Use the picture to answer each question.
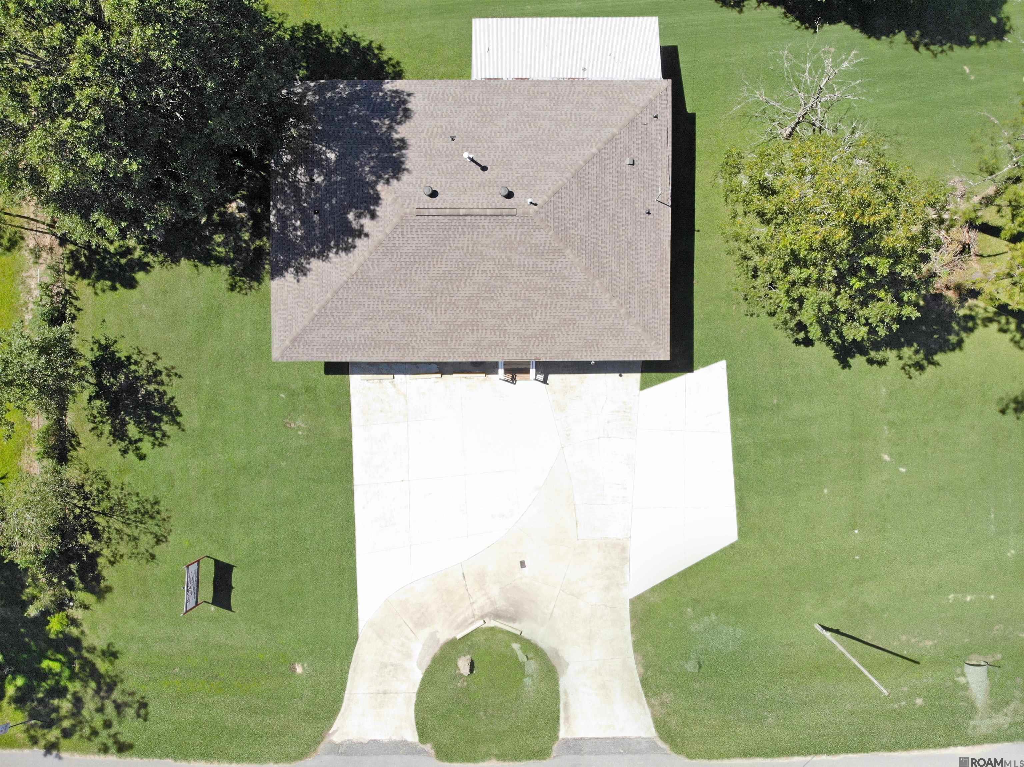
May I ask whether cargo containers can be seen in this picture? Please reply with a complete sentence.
No, there is no cargo container in the image.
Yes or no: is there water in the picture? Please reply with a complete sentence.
No, water can't be seen anywhere here.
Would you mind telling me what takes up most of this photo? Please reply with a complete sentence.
The scene is dominated by grass.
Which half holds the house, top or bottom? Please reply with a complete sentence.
The top half of the photo is where the house is.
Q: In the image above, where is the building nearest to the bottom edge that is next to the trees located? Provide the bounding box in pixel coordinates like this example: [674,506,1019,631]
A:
[269,77,673,363]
